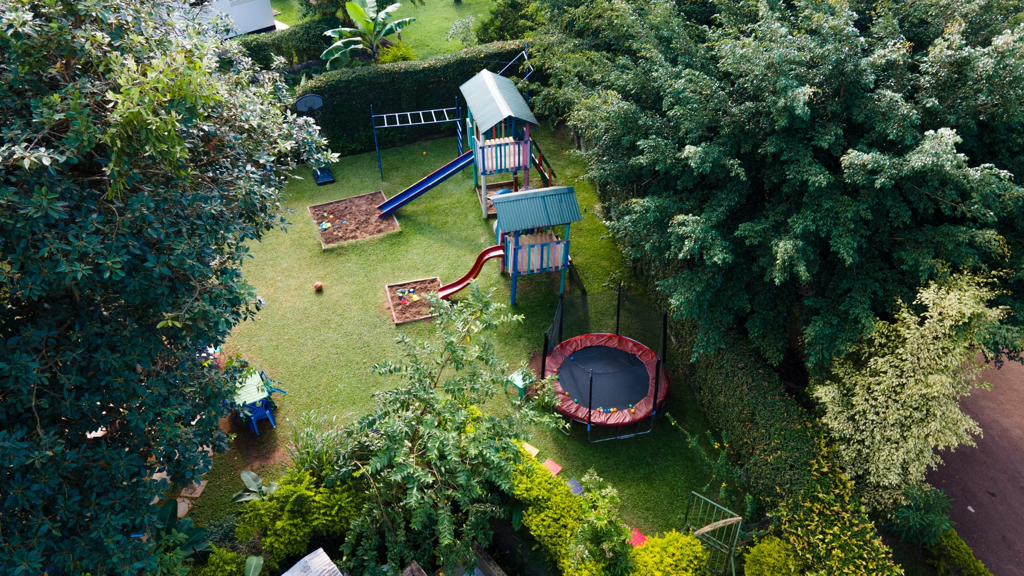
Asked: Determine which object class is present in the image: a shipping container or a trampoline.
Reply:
trampoline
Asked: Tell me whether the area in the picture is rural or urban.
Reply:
rural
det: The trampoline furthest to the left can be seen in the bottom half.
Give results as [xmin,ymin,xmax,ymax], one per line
[541,281,677,445]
